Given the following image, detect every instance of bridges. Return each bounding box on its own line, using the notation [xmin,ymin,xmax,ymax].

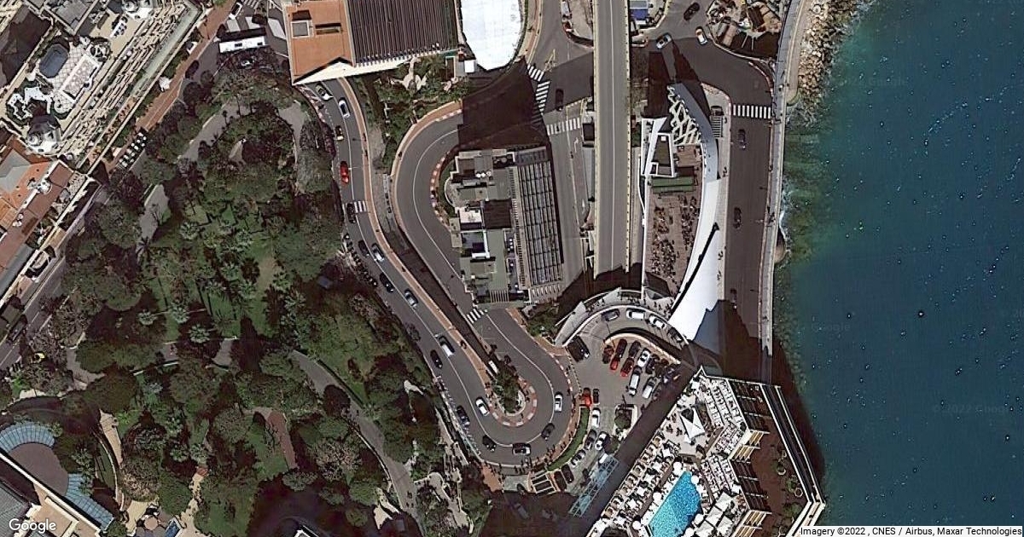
[593,0,631,293]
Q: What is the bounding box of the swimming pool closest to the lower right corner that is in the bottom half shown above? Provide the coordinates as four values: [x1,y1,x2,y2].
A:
[645,470,701,537]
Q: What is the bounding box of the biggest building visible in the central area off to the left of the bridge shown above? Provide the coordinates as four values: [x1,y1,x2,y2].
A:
[444,145,567,307]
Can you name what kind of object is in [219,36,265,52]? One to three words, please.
vehicle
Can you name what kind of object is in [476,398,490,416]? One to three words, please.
car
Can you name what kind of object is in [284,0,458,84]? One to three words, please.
building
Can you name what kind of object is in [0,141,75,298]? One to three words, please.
building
